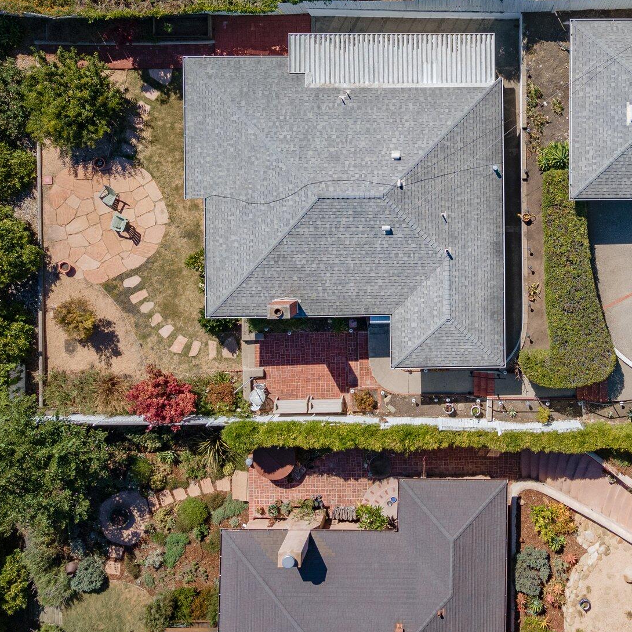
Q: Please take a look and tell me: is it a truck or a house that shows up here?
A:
house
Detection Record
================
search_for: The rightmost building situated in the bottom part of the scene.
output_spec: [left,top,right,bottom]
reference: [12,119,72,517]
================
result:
[216,474,511,632]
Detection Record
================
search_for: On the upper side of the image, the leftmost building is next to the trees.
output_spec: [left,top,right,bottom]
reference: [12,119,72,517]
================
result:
[180,32,508,371]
